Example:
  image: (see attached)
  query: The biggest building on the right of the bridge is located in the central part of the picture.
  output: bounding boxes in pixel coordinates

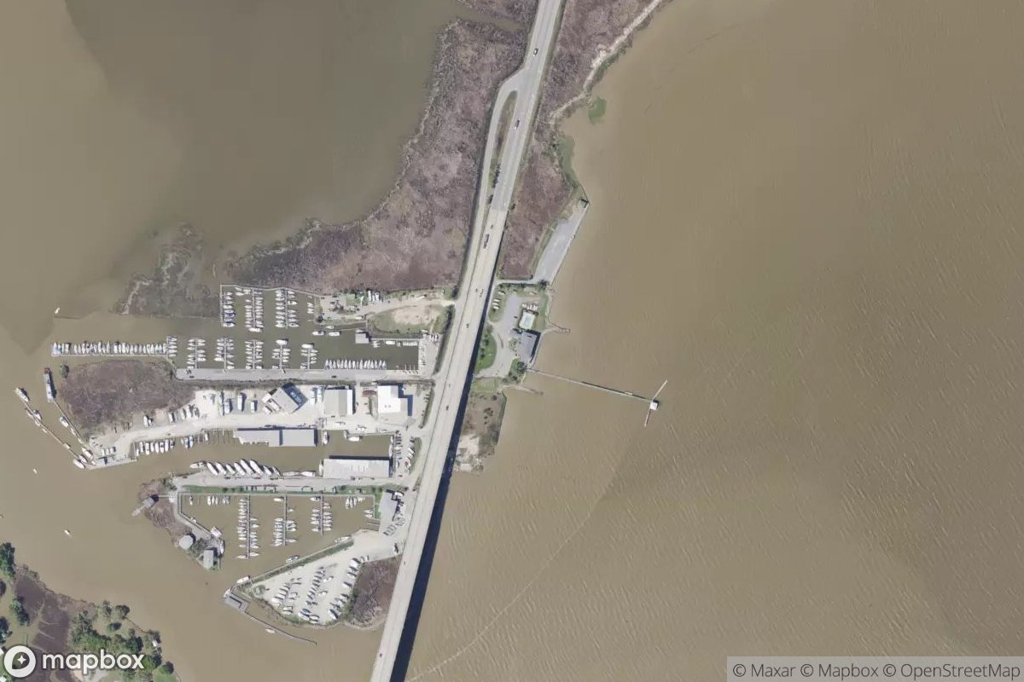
[518,331,537,363]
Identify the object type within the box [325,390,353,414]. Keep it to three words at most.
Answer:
building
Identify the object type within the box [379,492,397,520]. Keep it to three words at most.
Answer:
building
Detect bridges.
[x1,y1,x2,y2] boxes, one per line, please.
[370,209,509,682]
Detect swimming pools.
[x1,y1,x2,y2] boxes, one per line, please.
[520,311,535,329]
